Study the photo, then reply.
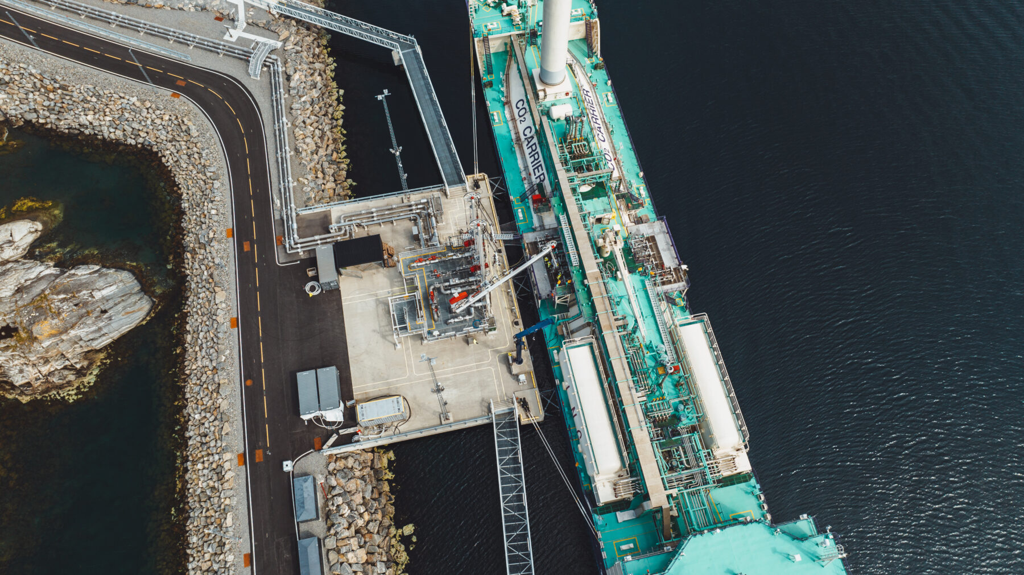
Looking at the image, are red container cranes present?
No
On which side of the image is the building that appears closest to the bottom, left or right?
left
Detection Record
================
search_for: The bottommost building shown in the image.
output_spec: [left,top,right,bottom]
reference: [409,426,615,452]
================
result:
[298,537,332,575]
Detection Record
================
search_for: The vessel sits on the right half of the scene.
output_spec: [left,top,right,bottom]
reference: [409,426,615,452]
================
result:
[469,0,852,575]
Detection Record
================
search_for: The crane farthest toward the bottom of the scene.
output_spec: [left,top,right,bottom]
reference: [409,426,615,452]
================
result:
[507,321,558,377]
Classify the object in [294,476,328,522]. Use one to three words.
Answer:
building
